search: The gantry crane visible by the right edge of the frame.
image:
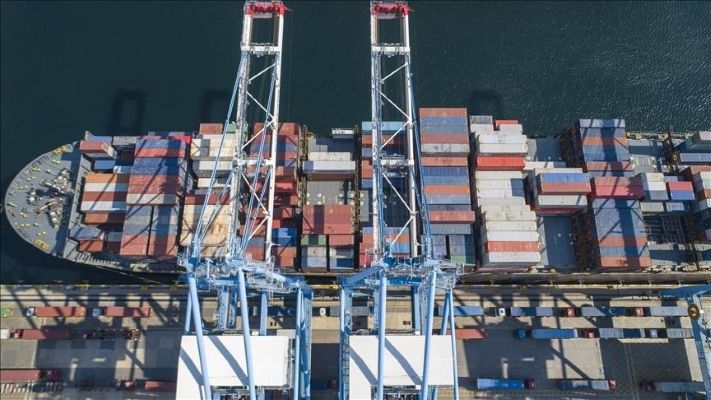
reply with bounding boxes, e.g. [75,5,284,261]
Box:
[649,290,711,399]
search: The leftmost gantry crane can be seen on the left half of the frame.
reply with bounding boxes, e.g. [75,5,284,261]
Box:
[179,0,329,400]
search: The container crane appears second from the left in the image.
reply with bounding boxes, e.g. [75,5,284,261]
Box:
[333,0,467,400]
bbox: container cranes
[649,290,711,399]
[333,0,467,400]
[179,0,329,400]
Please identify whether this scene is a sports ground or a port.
port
